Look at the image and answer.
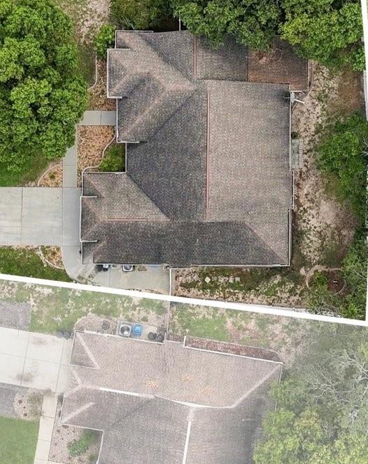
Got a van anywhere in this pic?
No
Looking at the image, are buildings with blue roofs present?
No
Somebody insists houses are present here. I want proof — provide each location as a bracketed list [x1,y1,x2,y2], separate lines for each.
[79,29,310,270]
[61,330,284,464]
